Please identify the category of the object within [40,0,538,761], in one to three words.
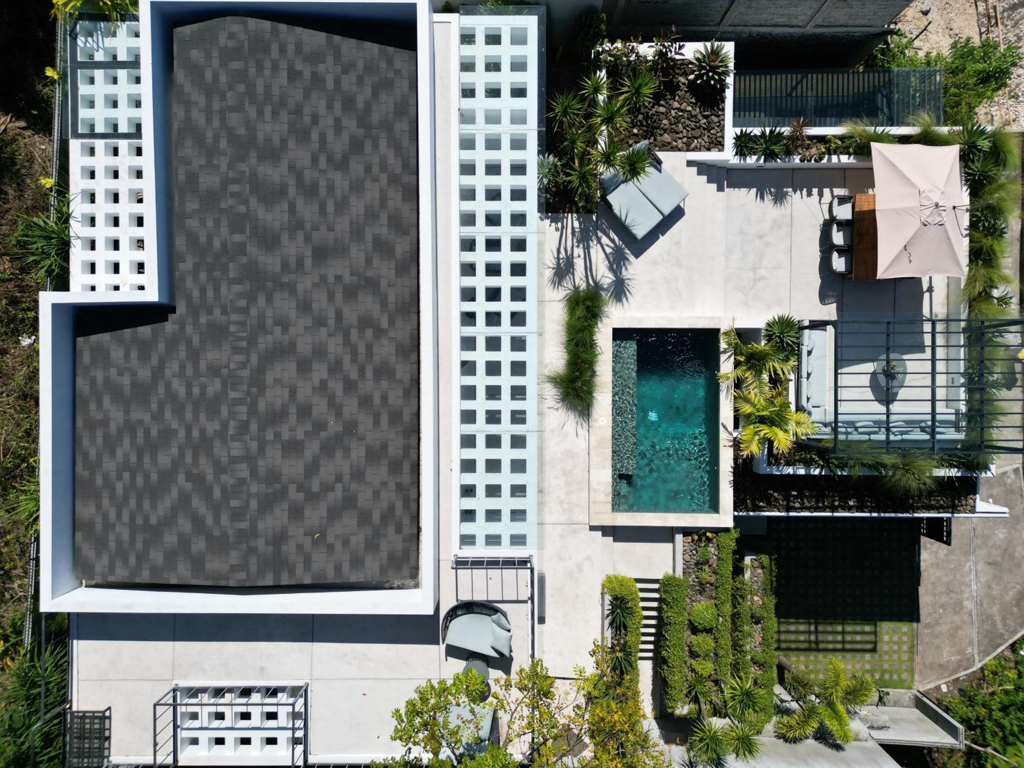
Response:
house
